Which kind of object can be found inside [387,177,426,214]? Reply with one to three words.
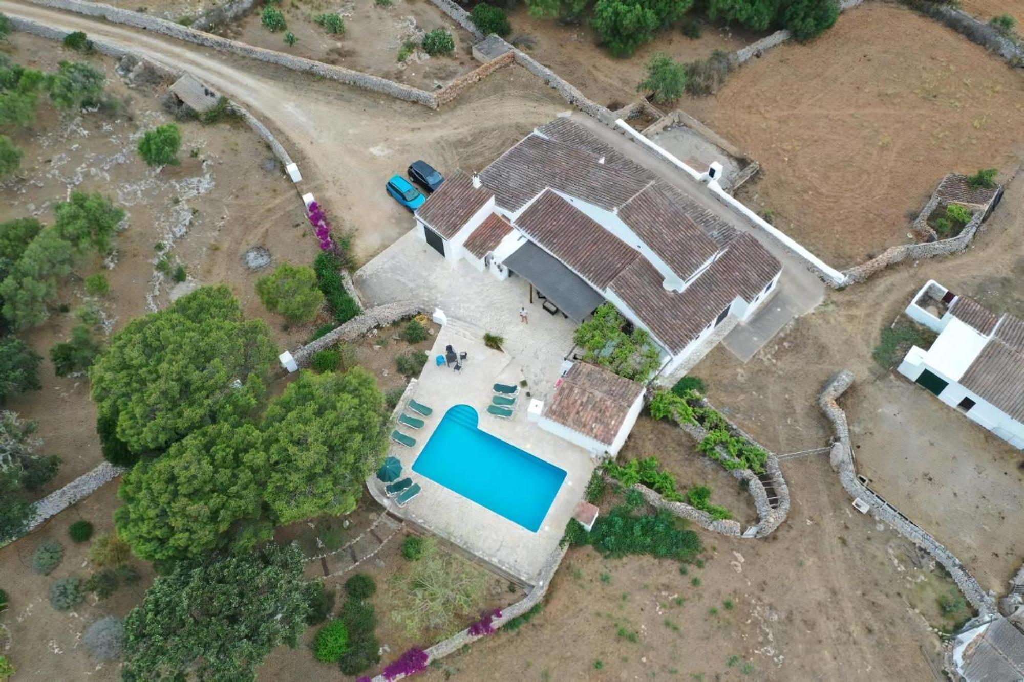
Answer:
car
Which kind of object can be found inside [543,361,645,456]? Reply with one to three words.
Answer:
shed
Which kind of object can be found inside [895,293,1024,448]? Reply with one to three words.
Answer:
building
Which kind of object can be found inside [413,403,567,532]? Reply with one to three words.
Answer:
swimming pool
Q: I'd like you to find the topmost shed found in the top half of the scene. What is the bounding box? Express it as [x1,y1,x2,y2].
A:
[473,35,513,66]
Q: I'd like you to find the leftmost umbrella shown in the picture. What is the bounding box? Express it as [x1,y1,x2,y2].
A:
[377,458,406,485]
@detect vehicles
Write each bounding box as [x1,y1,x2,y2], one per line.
[387,177,426,214]
[408,162,444,197]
